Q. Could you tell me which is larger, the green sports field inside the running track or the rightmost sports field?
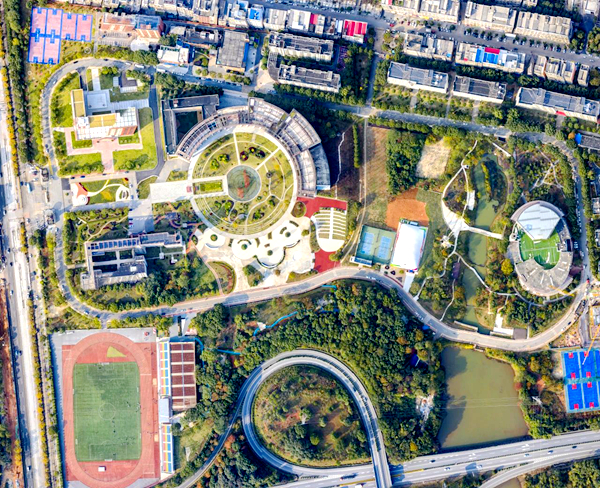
the green sports field inside the running track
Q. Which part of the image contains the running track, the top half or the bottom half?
bottom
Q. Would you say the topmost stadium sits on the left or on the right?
right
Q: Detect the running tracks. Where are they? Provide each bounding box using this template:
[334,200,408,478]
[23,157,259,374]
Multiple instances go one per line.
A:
[62,333,159,488]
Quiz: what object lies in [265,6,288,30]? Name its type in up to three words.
house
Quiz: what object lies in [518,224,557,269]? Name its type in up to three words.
sports field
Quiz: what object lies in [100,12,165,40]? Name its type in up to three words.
building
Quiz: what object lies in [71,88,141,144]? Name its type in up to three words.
building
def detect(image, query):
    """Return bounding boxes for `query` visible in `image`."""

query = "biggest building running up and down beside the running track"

[169,339,198,409]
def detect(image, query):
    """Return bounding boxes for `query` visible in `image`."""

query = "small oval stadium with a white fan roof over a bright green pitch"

[507,200,574,296]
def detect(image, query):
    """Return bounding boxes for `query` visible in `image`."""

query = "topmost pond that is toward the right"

[440,346,529,455]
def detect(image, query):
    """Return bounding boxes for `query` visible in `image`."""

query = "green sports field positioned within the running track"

[74,361,141,462]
